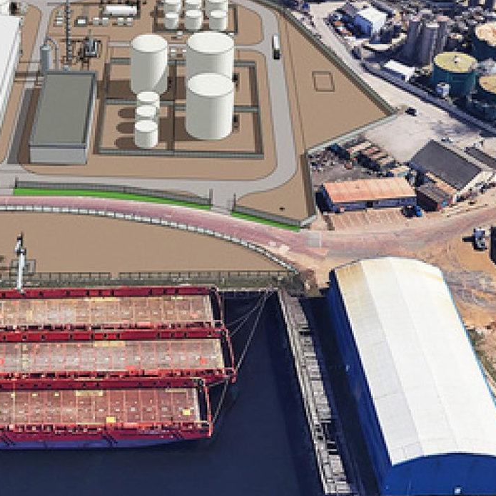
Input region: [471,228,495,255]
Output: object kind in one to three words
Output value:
truck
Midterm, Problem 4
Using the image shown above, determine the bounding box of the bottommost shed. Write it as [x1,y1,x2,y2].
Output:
[328,256,496,495]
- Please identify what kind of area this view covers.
industrial area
